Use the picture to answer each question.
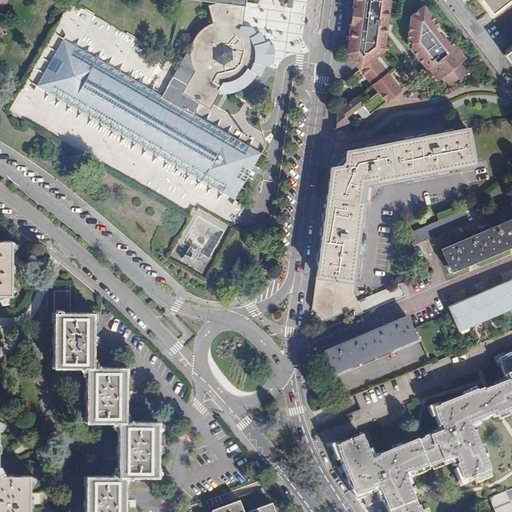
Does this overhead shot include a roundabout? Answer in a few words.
Yes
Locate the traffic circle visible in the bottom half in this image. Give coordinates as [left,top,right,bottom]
[210,330,268,396]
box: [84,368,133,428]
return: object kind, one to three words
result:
building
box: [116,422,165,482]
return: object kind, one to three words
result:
building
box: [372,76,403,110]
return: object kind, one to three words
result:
house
